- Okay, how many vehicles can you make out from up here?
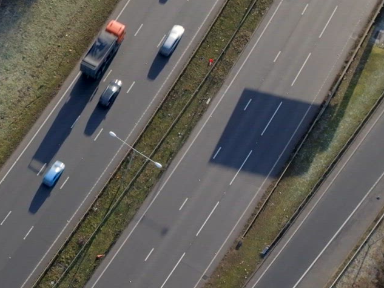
4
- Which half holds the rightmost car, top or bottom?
top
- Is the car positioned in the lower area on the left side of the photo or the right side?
left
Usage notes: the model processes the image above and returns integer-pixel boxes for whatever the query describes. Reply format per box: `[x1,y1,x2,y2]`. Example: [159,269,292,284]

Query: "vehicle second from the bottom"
[99,79,123,109]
